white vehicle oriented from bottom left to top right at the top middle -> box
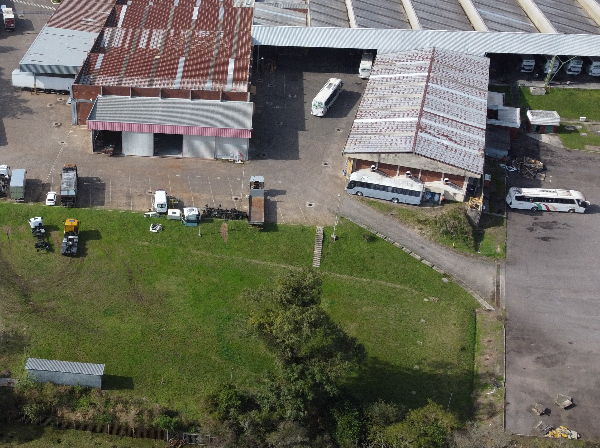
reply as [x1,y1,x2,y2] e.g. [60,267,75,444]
[312,73,349,112]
